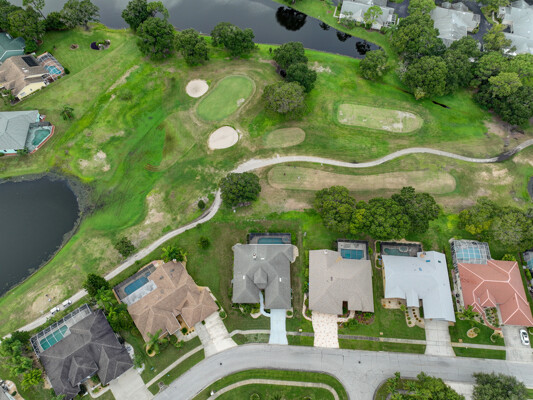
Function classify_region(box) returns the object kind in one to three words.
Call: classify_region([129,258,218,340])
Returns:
house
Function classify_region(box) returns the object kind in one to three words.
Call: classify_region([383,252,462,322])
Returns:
house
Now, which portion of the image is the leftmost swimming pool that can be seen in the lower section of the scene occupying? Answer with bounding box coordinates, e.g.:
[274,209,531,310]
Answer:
[37,308,91,356]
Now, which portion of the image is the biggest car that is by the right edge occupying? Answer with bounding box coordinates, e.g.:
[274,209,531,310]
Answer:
[518,329,531,347]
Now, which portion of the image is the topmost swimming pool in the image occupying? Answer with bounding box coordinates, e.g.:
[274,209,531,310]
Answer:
[42,57,62,82]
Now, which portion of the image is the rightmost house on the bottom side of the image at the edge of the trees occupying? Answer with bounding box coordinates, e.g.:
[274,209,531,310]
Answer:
[454,260,533,327]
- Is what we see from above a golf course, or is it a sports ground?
golf course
